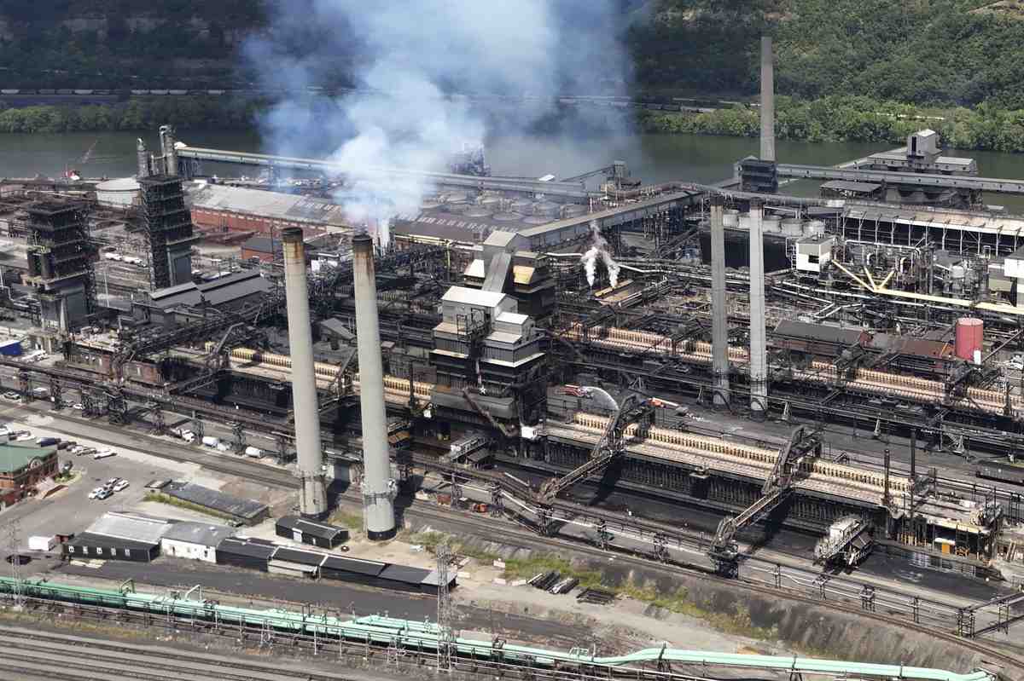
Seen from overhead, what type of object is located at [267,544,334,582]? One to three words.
shed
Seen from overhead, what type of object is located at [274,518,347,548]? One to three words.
shed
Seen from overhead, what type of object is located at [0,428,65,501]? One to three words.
building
